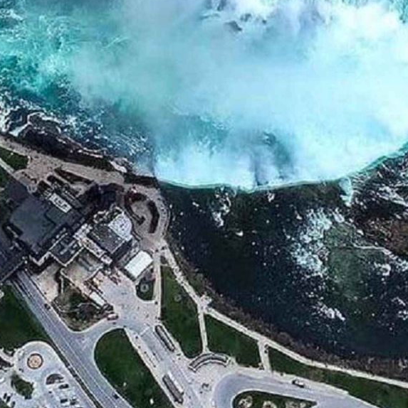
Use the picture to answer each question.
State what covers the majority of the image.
water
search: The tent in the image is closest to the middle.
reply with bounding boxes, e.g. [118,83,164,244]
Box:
[124,251,153,281]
